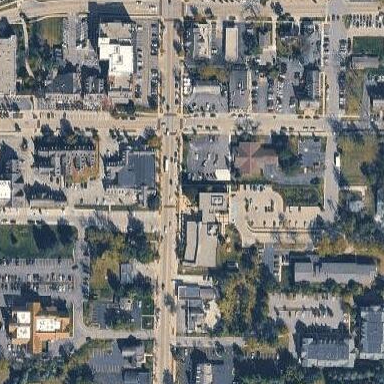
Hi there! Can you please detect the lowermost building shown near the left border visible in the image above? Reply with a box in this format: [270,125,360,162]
[8,301,69,354]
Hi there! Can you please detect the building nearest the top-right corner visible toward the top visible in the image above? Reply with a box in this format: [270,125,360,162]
[352,56,379,68]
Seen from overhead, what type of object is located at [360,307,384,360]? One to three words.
building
